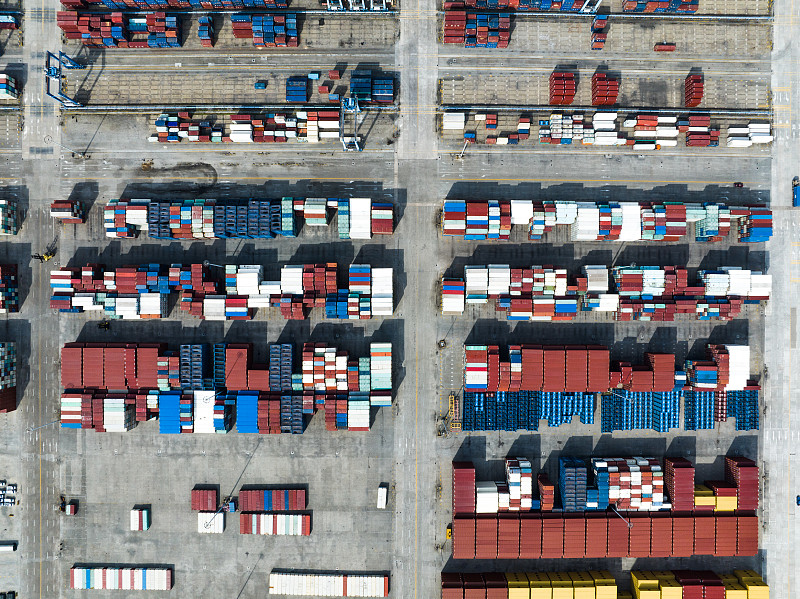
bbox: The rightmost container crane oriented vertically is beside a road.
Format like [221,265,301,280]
[338,94,363,152]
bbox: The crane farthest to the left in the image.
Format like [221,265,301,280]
[45,48,86,109]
